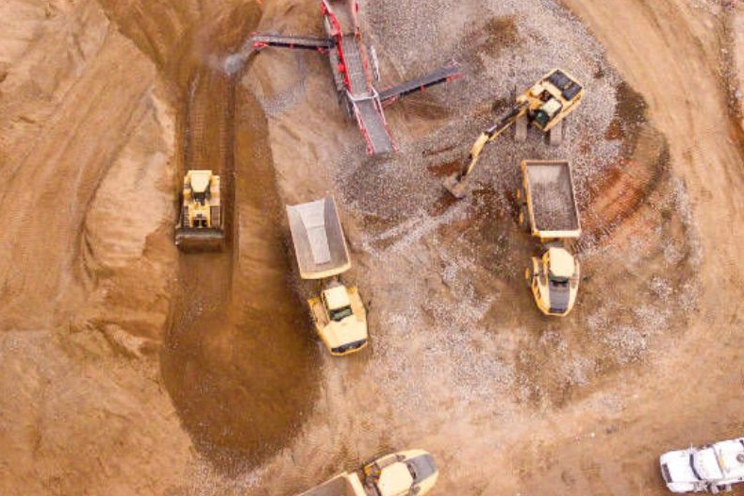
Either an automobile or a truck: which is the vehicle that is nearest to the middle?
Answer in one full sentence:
In the photo, the vehicle that is nearest to the middle shows up as a truck.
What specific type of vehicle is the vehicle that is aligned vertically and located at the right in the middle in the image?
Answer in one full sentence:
What you see as the vehicle that is aligned vertically and located at the right in the middle is a truck.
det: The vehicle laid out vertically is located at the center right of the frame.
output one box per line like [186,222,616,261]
[514,162,584,319]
